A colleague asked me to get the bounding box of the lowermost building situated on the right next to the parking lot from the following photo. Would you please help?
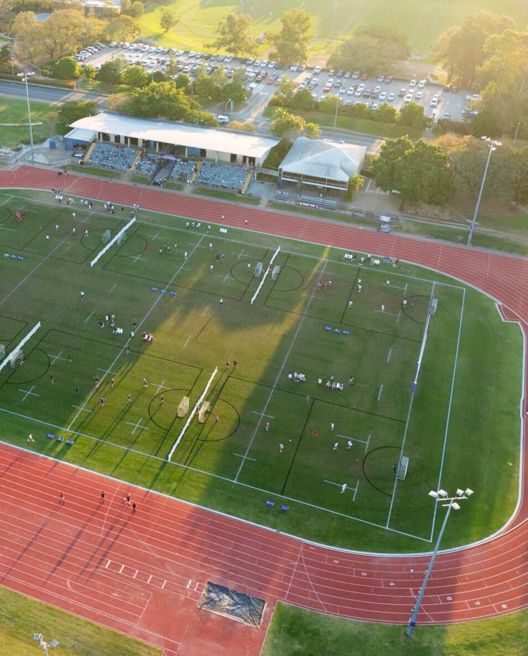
[278,138,366,201]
